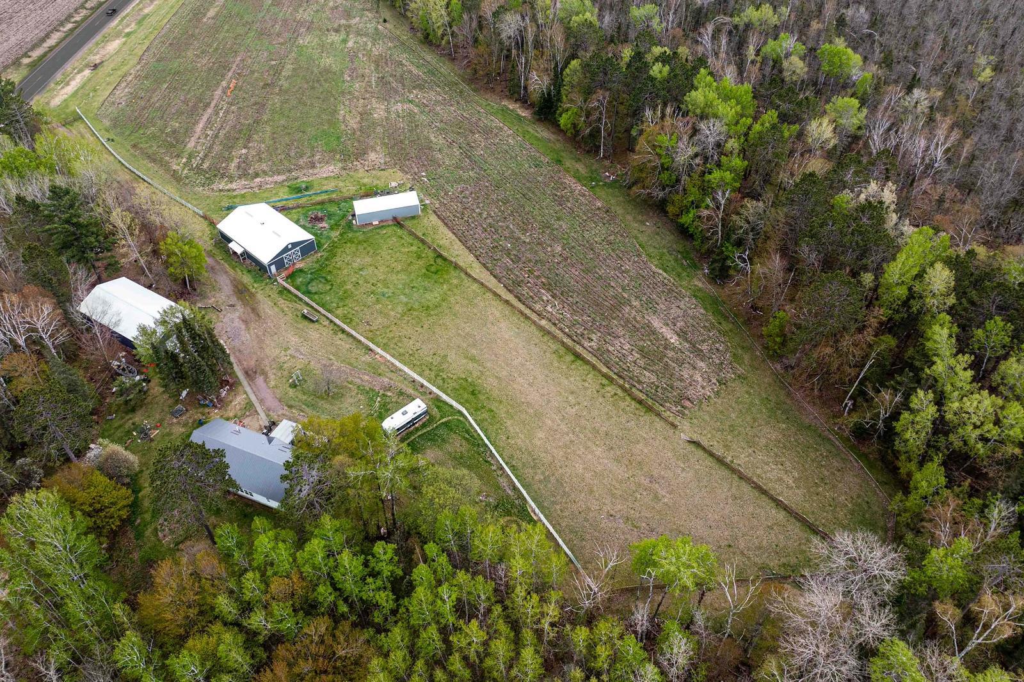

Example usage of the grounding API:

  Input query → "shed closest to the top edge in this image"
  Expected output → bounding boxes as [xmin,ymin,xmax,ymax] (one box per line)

[352,189,420,223]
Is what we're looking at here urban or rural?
rural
